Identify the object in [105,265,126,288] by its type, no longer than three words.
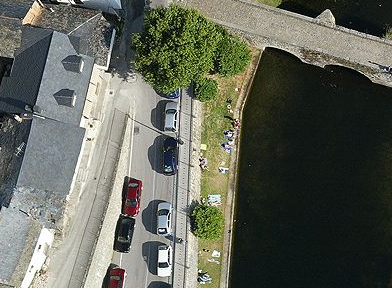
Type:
car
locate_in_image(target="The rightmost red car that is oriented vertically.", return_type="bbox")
[122,177,142,215]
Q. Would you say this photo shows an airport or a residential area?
residential area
